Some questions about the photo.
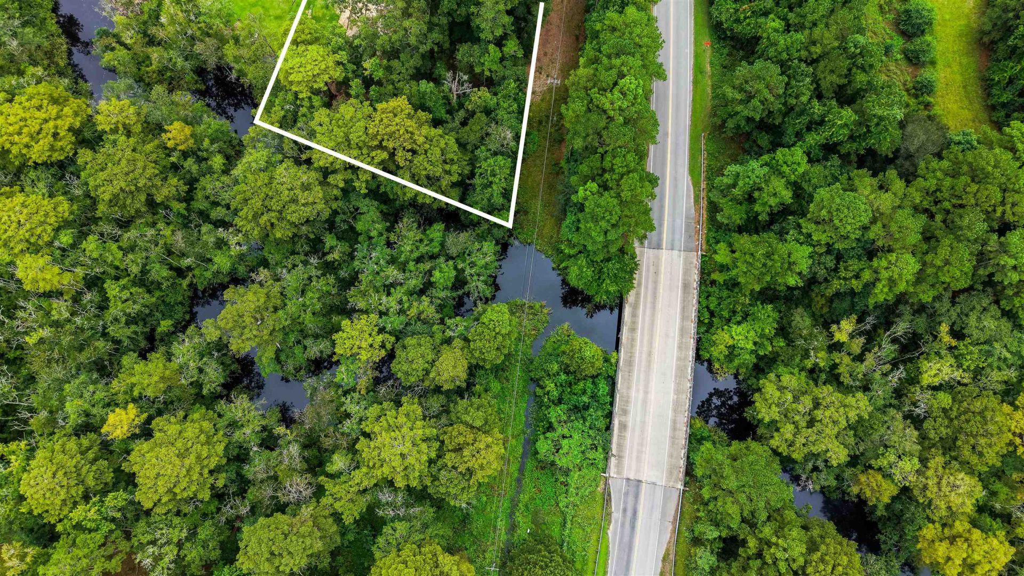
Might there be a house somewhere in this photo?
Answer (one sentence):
No, the frame has no house in it.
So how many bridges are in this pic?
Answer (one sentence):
My tally gives 1 bridge in this photo.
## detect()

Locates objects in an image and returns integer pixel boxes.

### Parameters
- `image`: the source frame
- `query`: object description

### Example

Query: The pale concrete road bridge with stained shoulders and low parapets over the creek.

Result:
[599,243,701,492]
